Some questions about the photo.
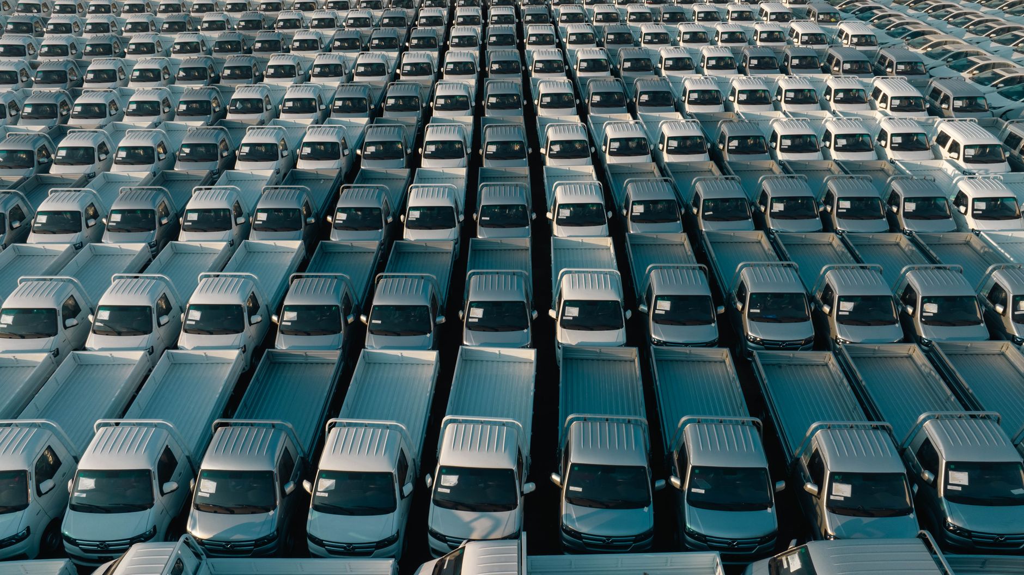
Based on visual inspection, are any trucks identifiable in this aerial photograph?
Yes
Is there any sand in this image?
No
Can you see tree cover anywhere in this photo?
No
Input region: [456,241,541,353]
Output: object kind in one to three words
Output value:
truck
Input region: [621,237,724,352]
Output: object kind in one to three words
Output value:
truck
